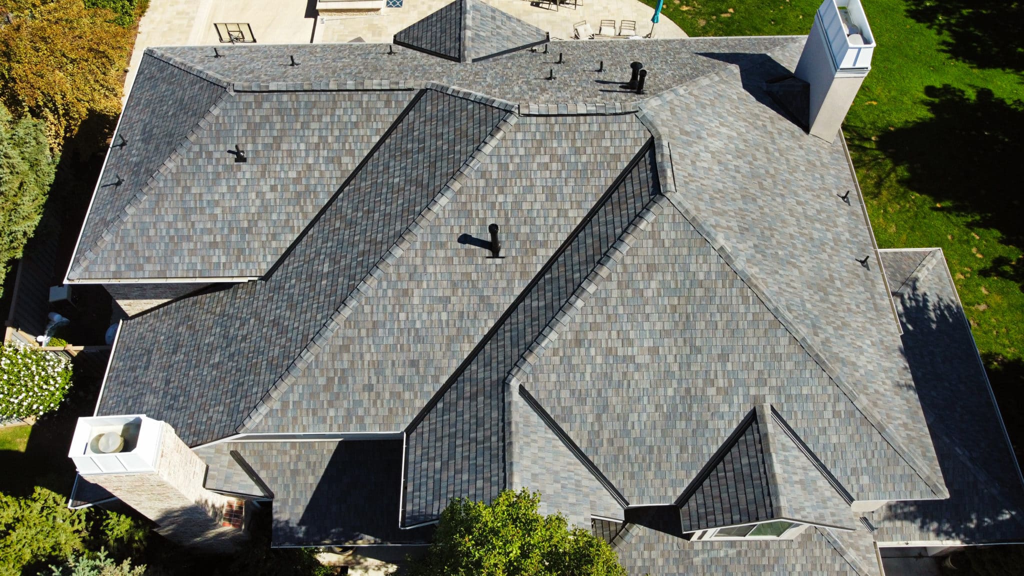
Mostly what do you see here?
buildings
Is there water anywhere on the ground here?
No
